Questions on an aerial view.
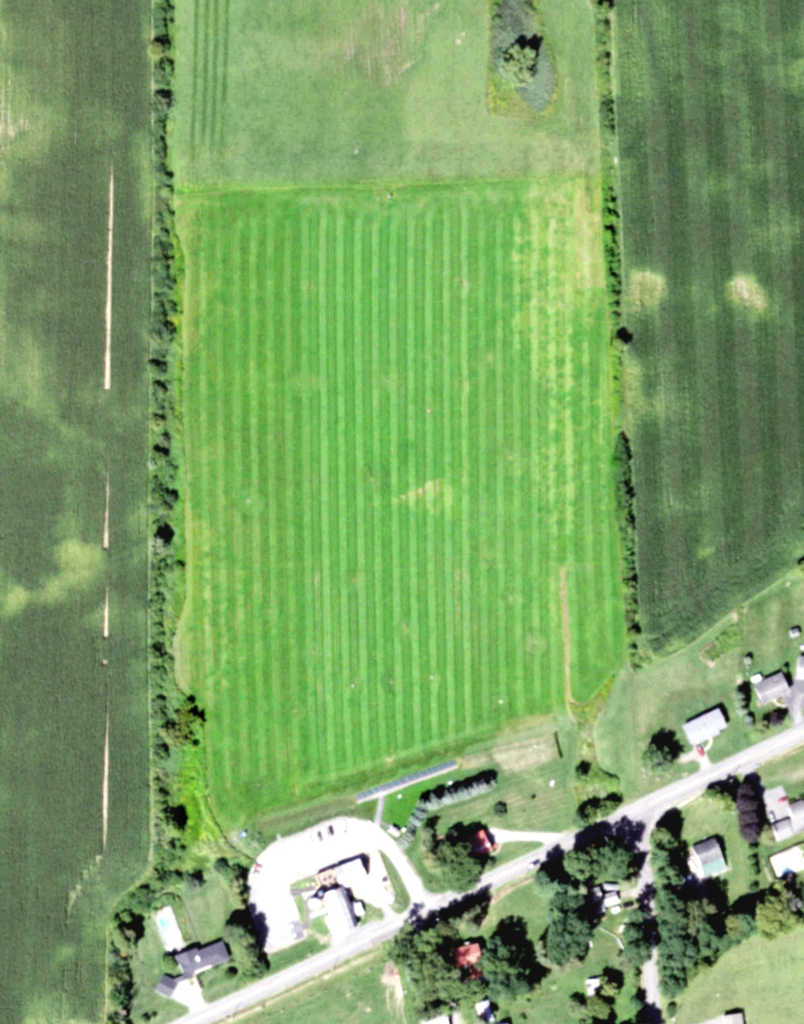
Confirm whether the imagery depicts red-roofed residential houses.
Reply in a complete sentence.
Yes, the frame does contain a red-roofed residential house.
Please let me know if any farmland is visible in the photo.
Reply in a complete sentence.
Yes, there is farmland in the image.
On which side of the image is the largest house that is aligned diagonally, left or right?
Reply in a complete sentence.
The largest house that is aligned diagonally is on the left side of the image.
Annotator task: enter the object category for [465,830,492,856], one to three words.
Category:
house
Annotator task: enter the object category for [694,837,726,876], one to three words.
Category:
house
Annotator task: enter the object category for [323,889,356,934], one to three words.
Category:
barn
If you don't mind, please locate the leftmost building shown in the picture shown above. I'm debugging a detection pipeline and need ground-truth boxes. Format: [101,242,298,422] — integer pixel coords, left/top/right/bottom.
[156,939,227,998]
